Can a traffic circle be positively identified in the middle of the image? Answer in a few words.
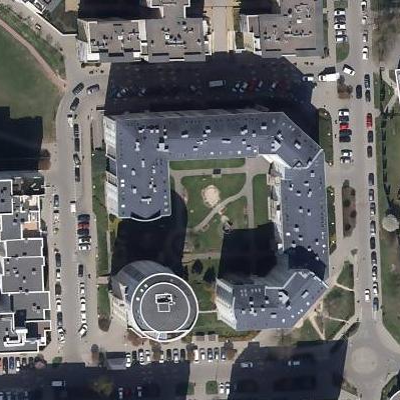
No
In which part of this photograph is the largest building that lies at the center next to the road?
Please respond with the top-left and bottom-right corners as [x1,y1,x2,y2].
[107,108,327,284]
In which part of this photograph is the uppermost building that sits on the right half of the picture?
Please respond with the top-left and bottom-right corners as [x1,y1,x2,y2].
[238,0,323,58]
